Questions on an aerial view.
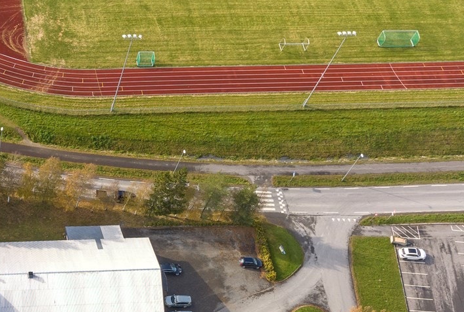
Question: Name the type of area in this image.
sports ground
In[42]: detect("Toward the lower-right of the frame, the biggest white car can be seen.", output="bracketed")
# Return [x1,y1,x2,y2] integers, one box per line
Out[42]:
[396,247,426,262]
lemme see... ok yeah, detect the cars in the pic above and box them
[160,264,185,278]
[396,247,426,262]
[113,190,139,204]
[163,296,193,309]
[237,258,263,270]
